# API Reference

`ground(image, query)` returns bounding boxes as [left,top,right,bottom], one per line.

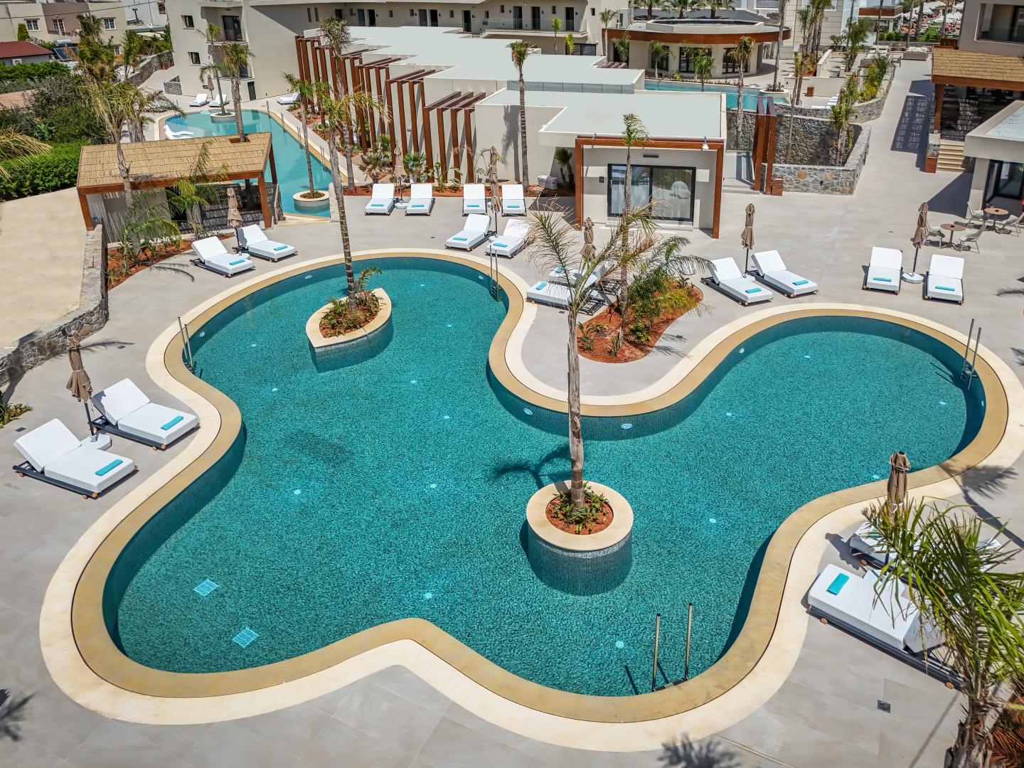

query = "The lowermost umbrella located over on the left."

[52,339,110,445]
